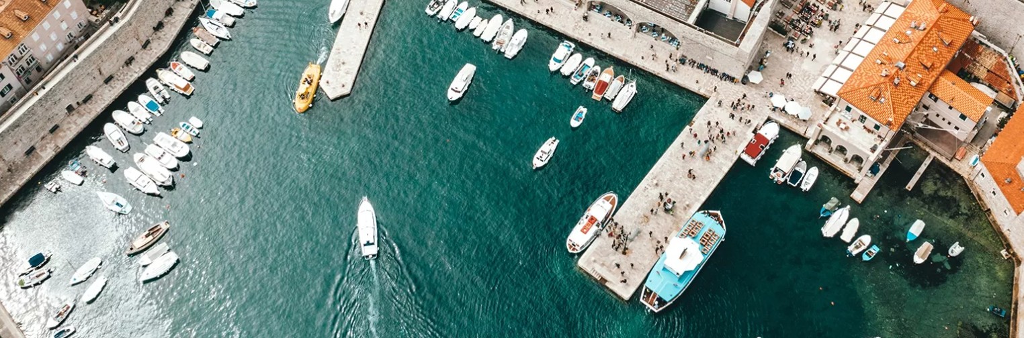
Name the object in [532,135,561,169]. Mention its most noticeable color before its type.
white boat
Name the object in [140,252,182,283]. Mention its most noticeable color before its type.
white boat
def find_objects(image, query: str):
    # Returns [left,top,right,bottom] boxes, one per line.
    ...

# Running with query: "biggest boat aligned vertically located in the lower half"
[357,194,379,264]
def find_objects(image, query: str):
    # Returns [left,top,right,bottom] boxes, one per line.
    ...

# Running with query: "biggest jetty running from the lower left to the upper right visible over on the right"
[579,98,768,303]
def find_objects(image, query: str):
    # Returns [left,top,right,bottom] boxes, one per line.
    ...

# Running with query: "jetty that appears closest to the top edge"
[320,0,386,104]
